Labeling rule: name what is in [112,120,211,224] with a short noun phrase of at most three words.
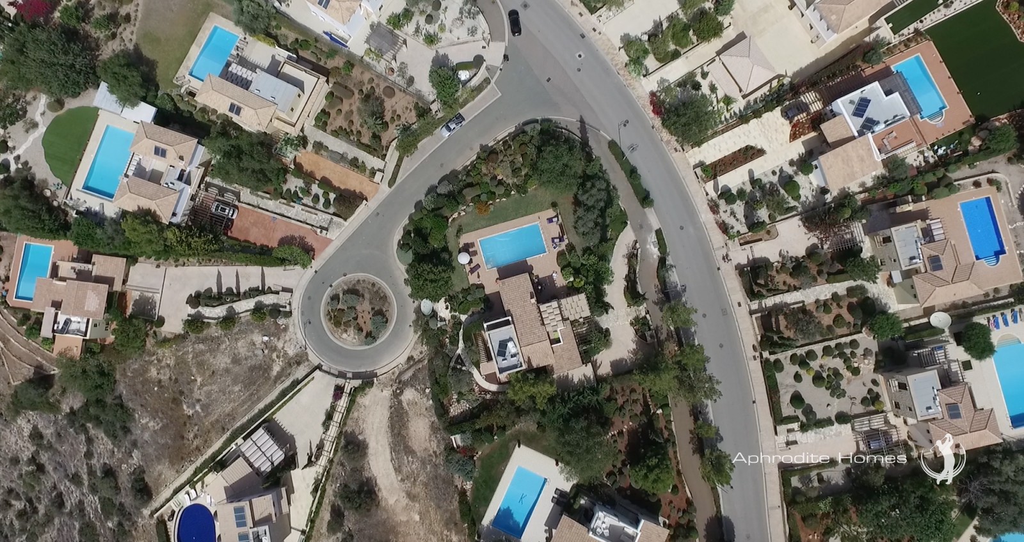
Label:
house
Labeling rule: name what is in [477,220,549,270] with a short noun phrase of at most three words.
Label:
swimming pool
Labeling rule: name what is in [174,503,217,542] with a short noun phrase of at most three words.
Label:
swimming pool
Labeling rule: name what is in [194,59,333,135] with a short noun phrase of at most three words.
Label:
house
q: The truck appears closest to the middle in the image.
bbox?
[438,110,468,137]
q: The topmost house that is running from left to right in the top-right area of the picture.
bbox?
[785,0,893,50]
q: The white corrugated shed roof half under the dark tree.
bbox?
[94,83,132,114]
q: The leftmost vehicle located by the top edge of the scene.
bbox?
[507,8,522,37]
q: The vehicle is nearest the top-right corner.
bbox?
[780,99,808,120]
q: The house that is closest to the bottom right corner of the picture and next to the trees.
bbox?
[886,363,1003,454]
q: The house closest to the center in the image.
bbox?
[480,272,584,375]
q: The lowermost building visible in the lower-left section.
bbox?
[204,458,293,542]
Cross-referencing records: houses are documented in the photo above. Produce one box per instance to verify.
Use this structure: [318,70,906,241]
[543,499,669,542]
[204,458,293,542]
[785,0,893,50]
[480,272,584,375]
[31,254,134,357]
[302,0,390,35]
[194,59,333,135]
[867,221,987,307]
[112,120,211,224]
[886,363,1003,454]
[812,81,924,191]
